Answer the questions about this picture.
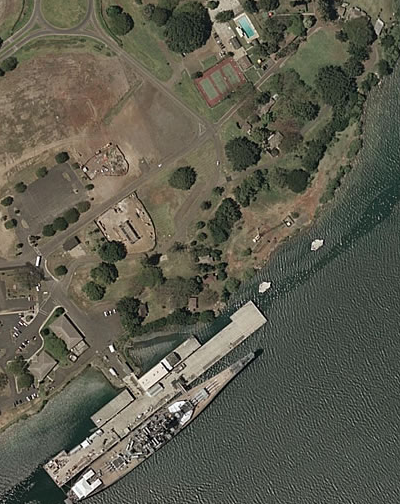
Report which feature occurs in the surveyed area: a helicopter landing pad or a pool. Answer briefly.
pool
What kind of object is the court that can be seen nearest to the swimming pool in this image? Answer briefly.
tennis court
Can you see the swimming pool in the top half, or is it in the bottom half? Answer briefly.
top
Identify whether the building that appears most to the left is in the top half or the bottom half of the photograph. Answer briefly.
bottom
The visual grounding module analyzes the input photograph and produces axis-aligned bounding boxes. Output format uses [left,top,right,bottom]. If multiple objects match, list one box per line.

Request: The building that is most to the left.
[30,351,58,381]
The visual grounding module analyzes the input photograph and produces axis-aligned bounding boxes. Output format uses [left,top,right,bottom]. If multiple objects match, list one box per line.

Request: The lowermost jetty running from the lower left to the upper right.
[44,301,267,487]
